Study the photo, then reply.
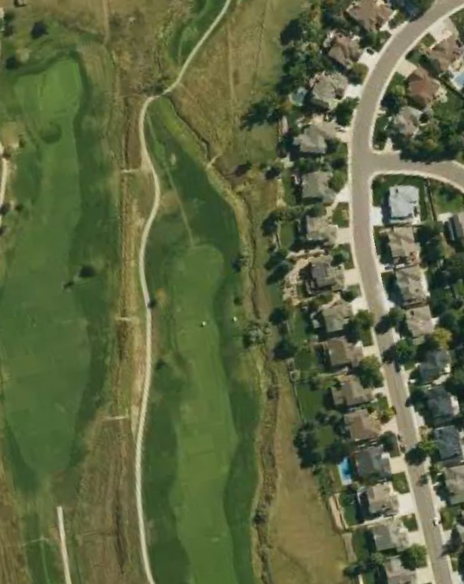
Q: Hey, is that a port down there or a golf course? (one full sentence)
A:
This looks like a golf course.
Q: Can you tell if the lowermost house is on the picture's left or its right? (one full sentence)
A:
The lowermost house is on the right side of the image.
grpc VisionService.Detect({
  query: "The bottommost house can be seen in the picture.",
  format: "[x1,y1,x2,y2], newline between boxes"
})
[382,558,420,584]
